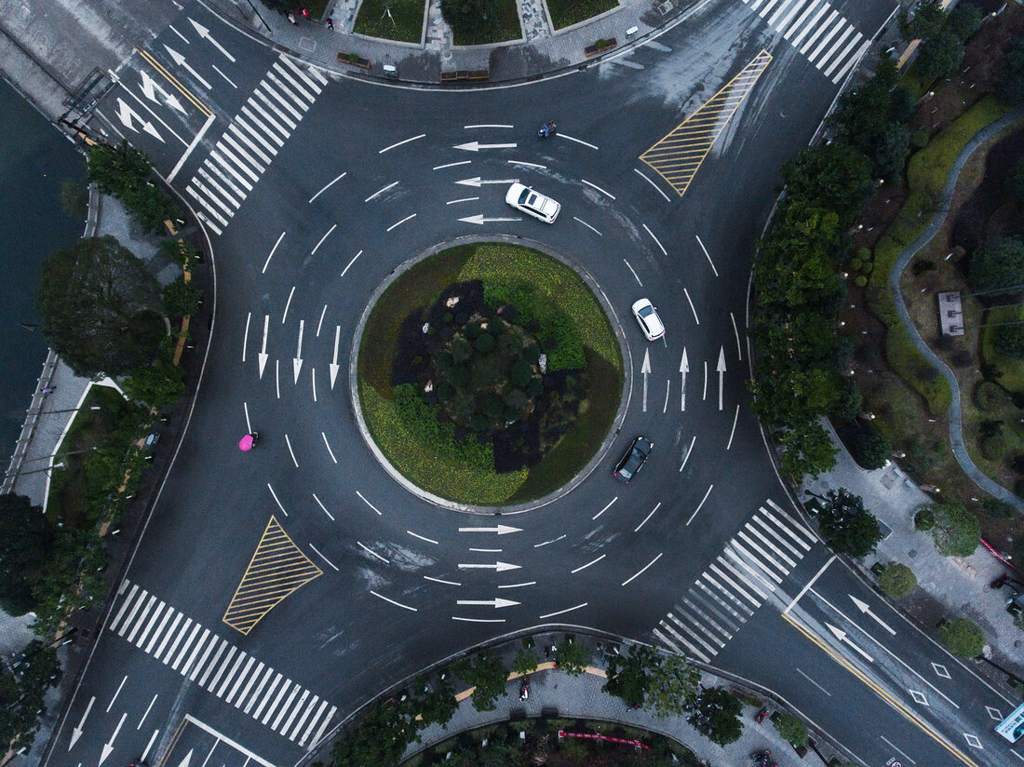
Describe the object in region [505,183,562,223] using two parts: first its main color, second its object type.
white car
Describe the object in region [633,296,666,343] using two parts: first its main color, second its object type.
white car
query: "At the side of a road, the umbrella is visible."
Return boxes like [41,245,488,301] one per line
[239,433,254,452]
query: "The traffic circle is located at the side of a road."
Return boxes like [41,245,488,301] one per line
[232,116,751,631]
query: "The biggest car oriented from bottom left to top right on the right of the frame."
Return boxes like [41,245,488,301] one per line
[613,435,654,485]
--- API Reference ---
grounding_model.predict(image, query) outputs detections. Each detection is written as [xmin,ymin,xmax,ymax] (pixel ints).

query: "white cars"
[633,296,666,343]
[505,183,562,223]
